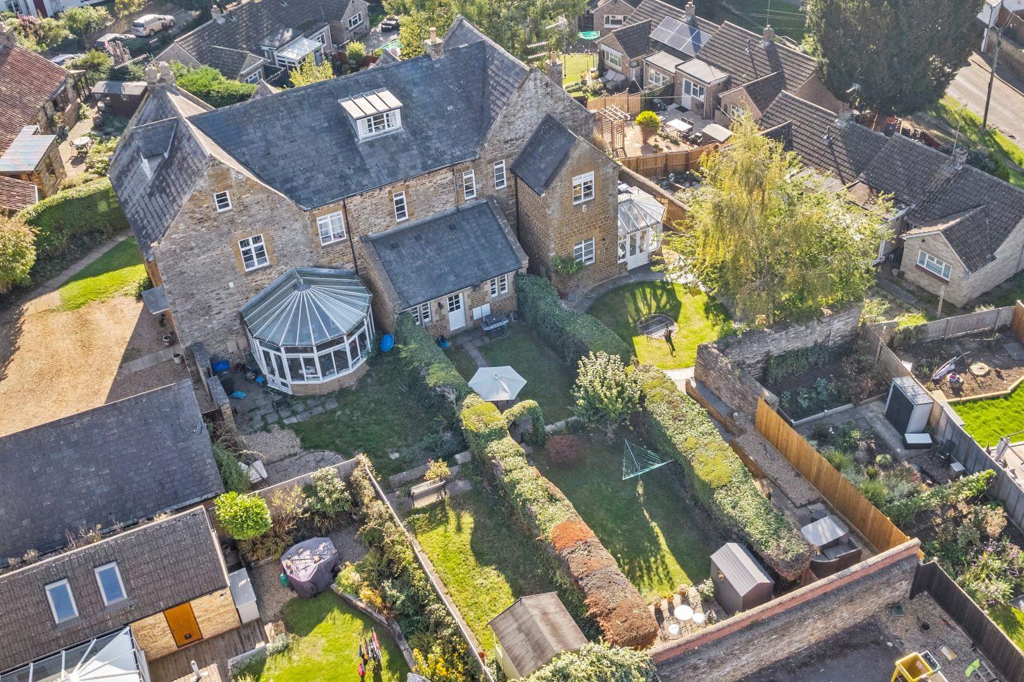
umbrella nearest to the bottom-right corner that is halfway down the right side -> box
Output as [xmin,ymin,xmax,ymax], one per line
[939,356,958,386]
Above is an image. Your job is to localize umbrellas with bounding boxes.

[939,356,958,386]
[466,366,529,406]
